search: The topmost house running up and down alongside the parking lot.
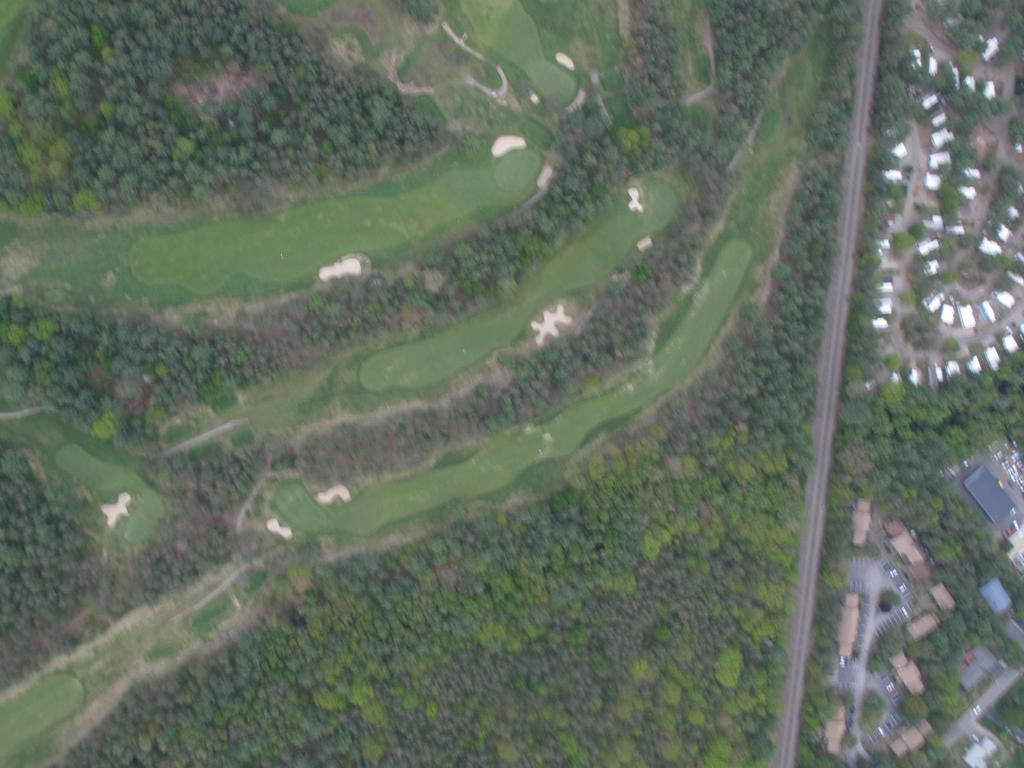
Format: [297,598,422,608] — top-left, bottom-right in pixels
[849,500,870,544]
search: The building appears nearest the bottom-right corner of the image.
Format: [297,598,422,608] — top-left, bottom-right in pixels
[958,735,998,768]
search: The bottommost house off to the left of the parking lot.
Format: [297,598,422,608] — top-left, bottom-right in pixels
[825,706,845,756]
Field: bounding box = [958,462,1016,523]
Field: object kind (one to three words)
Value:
building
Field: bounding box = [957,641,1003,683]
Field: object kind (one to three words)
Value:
house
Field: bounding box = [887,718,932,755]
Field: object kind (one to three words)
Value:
house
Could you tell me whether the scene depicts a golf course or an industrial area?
golf course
